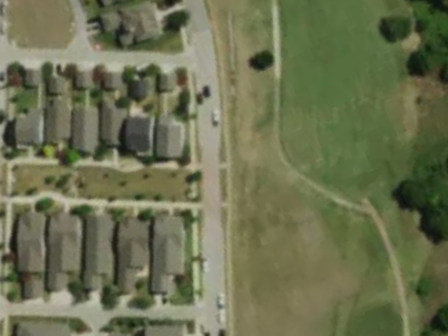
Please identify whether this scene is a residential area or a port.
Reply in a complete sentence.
The area seen from above is a residential area.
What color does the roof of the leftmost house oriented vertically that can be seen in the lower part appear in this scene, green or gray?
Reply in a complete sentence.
The roof of the leftmost house oriented vertically that can be seen in the lower part looks gray in the image.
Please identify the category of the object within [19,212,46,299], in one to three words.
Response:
house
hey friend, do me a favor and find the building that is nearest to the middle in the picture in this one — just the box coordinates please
[158,117,188,159]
